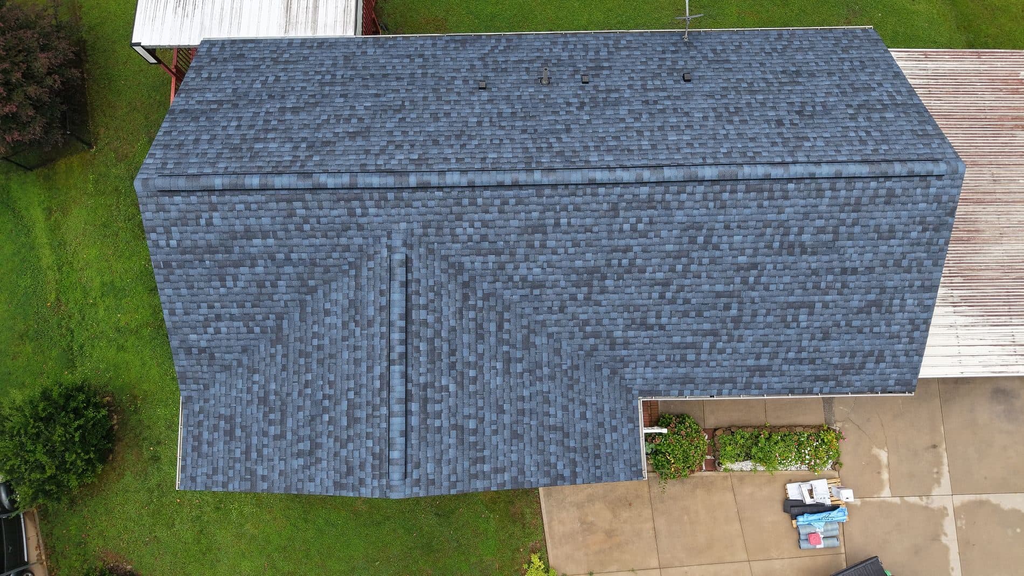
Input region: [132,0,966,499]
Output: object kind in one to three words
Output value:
house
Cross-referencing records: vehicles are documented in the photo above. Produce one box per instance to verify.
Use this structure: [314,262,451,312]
[833,557,887,576]
[0,500,36,576]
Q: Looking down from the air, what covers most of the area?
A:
buildings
